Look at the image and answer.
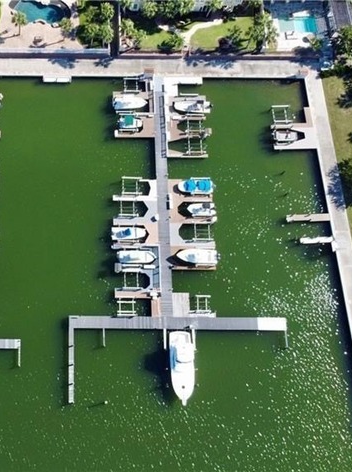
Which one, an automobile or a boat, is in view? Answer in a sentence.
The one in the frame is a boat.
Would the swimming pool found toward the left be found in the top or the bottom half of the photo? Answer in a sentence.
It is in the top half that the swimming pool found toward the left appears.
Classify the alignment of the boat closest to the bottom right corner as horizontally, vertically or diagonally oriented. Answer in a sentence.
Seen from above, the boat closest to the bottom right corner lies vertically.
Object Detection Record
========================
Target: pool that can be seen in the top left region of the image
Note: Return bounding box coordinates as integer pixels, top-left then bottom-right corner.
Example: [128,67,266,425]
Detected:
[11,0,71,25]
